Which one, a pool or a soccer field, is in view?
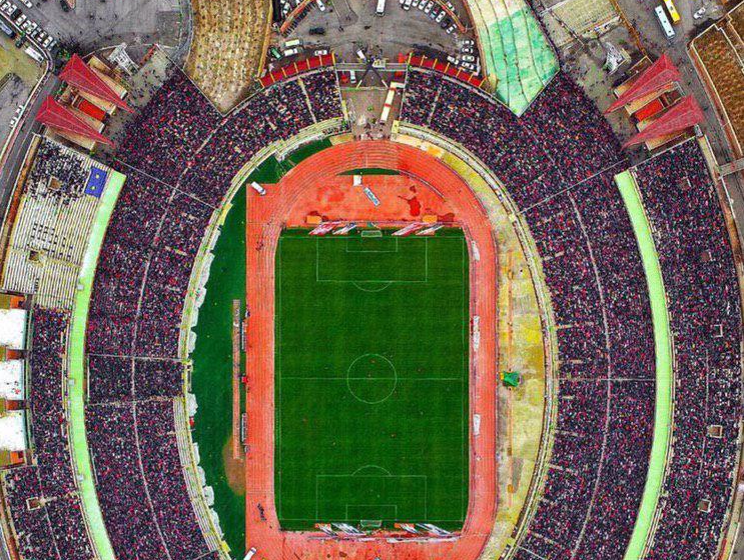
soccer field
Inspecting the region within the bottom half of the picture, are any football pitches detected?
Yes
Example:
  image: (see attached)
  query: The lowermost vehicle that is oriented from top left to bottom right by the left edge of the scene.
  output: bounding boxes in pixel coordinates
[21,44,44,61]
